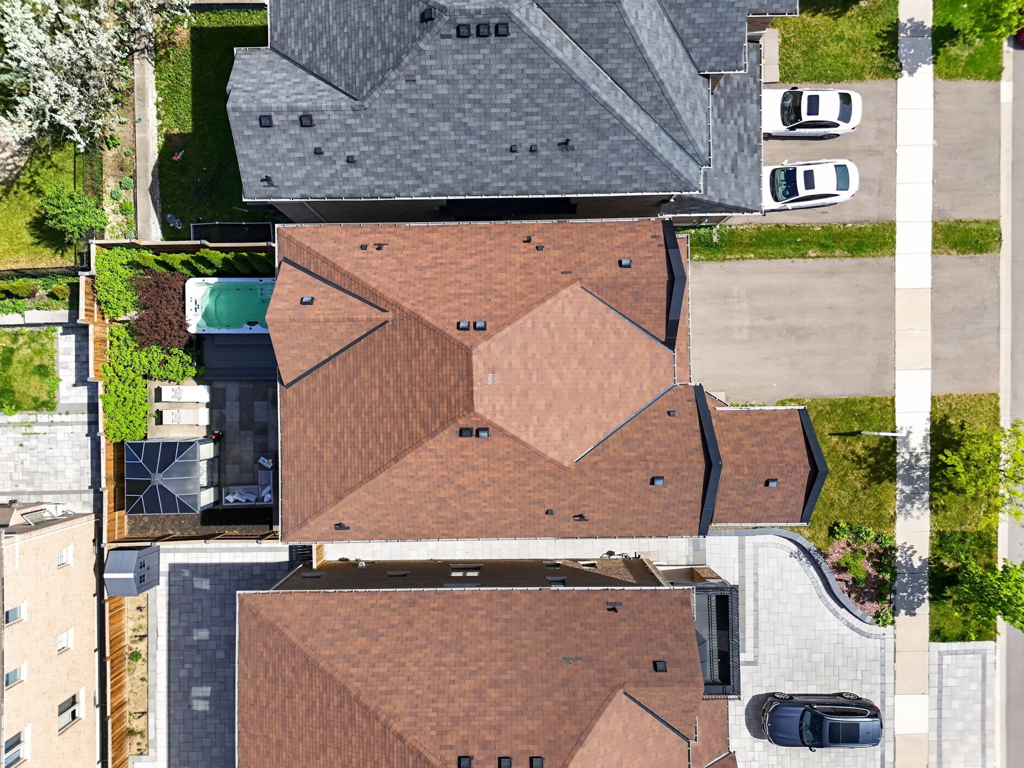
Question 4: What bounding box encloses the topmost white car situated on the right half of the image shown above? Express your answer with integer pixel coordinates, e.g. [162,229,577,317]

[765,83,862,141]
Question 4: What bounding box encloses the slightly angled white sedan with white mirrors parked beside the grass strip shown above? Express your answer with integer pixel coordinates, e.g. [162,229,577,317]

[766,157,860,213]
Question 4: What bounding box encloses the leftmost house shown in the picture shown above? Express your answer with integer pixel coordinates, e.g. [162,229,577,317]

[0,504,107,768]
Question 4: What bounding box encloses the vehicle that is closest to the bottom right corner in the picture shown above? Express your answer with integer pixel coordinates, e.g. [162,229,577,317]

[761,692,884,758]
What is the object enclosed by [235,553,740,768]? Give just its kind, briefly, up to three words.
house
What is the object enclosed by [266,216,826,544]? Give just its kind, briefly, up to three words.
house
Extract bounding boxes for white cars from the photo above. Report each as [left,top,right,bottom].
[766,157,860,213]
[765,83,862,141]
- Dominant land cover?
buildings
